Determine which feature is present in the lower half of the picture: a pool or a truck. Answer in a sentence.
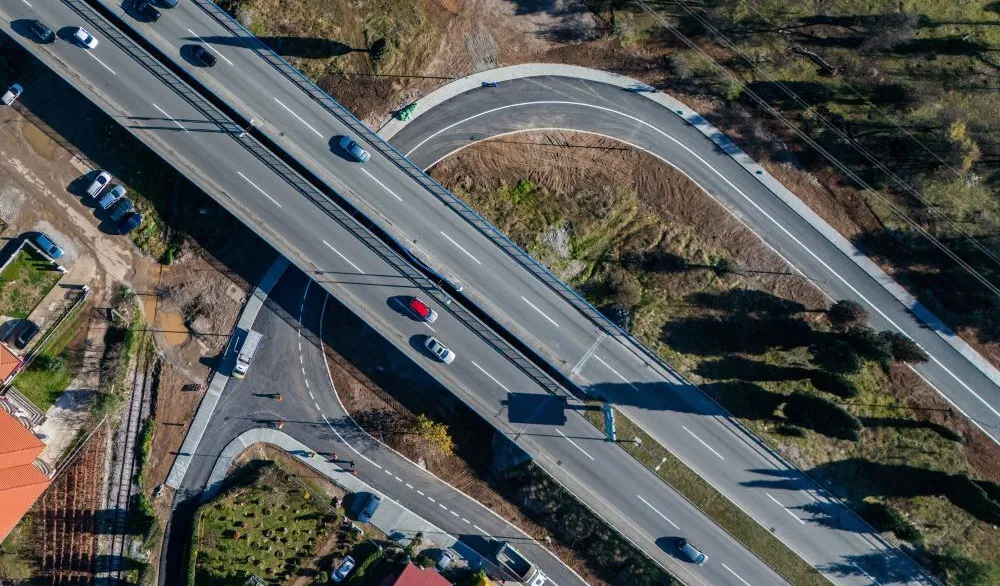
The one visible in the lower half of the picture is a truck.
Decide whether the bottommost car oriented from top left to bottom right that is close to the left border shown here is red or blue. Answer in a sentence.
From above, the bottommost car oriented from top left to bottom right that is close to the left border appears blue.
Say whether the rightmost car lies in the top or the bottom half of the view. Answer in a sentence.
It is in the bottom half that the rightmost car appears.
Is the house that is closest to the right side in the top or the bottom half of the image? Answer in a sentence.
The house that is closest to the right side is in the bottom half of the image.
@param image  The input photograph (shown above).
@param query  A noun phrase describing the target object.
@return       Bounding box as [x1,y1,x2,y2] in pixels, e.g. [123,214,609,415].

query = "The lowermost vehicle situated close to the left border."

[14,318,44,348]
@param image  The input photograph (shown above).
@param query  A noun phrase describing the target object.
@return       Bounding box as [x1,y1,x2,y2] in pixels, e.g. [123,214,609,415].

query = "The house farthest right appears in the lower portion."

[389,552,455,586]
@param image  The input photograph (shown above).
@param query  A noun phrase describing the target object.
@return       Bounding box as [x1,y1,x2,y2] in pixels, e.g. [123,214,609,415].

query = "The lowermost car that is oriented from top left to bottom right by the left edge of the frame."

[32,231,67,261]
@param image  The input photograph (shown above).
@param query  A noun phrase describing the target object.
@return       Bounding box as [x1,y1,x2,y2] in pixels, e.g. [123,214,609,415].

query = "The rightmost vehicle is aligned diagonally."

[675,536,709,565]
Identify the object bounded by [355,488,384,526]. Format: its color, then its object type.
blue car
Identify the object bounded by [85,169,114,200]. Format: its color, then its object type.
white car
